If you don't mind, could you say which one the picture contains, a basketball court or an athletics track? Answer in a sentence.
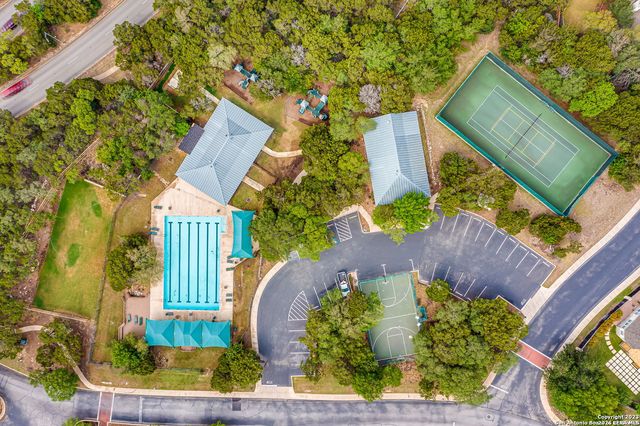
Of the two, only a basketball court appears.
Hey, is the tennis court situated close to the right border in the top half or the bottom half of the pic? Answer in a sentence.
The tennis court situated close to the right border sits in the top half of the picture.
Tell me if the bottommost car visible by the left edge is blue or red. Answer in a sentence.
The color of the bottommost car visible by the left edge is red.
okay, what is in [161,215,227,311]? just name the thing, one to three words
swimming pool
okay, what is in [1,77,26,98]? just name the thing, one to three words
car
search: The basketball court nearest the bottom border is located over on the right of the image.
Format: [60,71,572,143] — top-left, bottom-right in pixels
[359,271,426,364]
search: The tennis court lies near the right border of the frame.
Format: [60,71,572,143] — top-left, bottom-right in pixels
[436,56,611,212]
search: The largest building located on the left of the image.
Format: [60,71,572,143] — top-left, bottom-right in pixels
[175,97,274,206]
